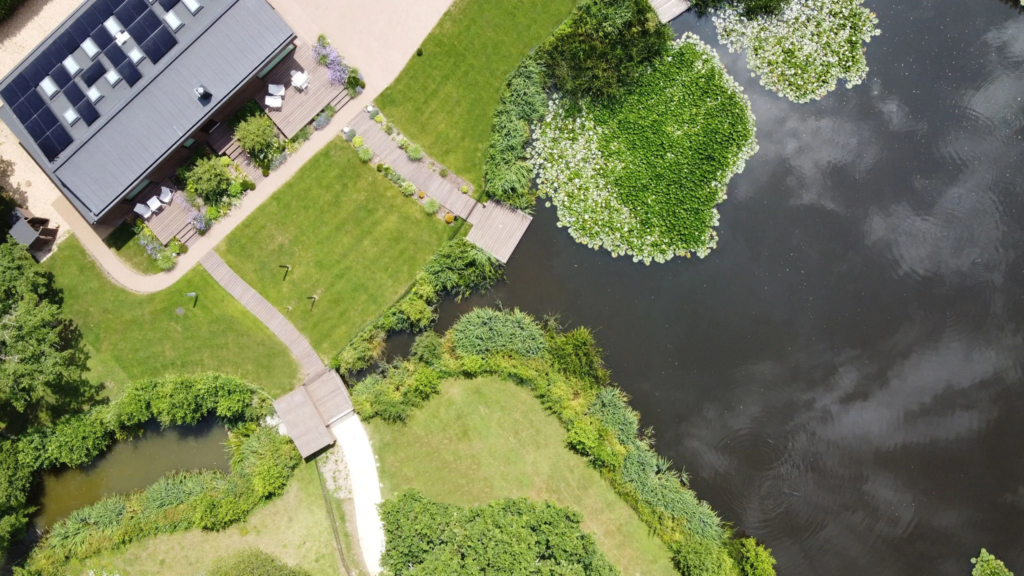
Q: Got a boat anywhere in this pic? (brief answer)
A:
No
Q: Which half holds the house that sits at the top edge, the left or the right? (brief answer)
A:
left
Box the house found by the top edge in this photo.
[0,0,311,229]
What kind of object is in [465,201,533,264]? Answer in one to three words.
pier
